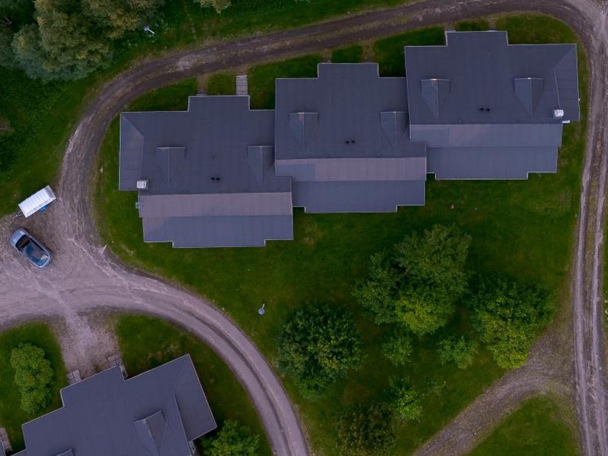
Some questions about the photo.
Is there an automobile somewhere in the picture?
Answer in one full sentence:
Yes, there's an automobile here.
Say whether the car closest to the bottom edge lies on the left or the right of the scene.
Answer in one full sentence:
It is on the left.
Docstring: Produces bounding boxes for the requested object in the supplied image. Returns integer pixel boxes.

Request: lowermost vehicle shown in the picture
[12,227,56,271]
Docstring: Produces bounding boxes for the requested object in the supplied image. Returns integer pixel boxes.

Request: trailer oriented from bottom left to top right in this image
[15,185,59,218]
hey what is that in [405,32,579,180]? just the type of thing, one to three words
house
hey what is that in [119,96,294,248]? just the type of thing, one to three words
house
